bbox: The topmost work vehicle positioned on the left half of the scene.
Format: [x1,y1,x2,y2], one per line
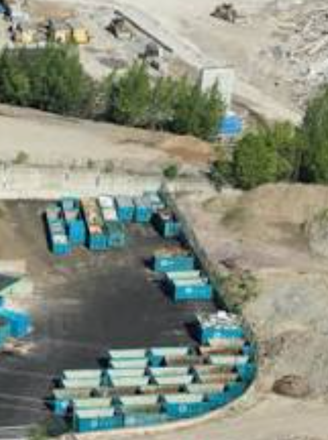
[108,13,141,37]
